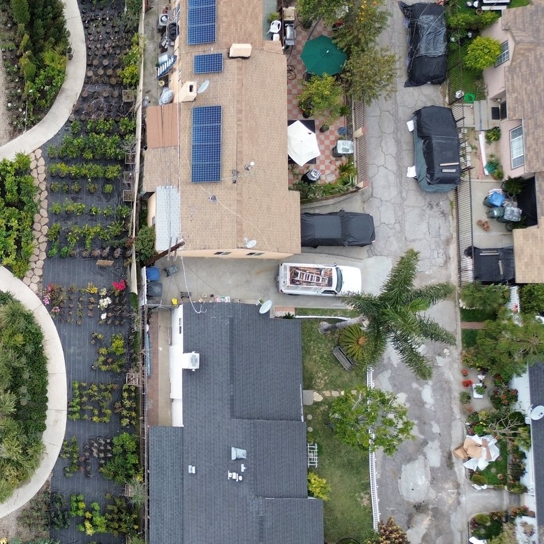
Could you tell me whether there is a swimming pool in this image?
No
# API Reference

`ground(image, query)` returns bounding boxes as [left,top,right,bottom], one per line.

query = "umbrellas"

[289,126,320,162]
[299,35,345,79]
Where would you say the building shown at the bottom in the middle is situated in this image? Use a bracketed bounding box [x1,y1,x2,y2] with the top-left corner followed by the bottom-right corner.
[148,303,324,544]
